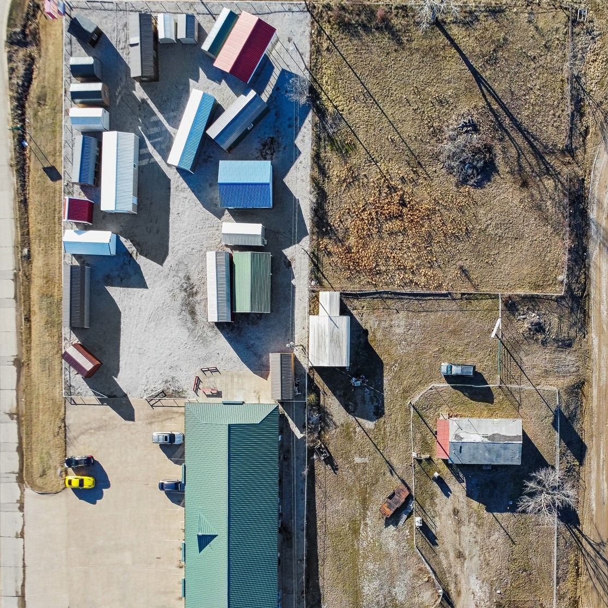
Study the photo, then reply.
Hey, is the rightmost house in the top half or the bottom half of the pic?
bottom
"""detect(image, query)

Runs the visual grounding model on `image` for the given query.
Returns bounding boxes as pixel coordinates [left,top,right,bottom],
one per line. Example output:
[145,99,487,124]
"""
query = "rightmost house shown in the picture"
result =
[437,419,522,464]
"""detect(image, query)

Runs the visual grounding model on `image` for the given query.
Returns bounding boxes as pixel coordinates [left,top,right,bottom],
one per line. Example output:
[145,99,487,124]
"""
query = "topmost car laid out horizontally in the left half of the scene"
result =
[150,431,181,445]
